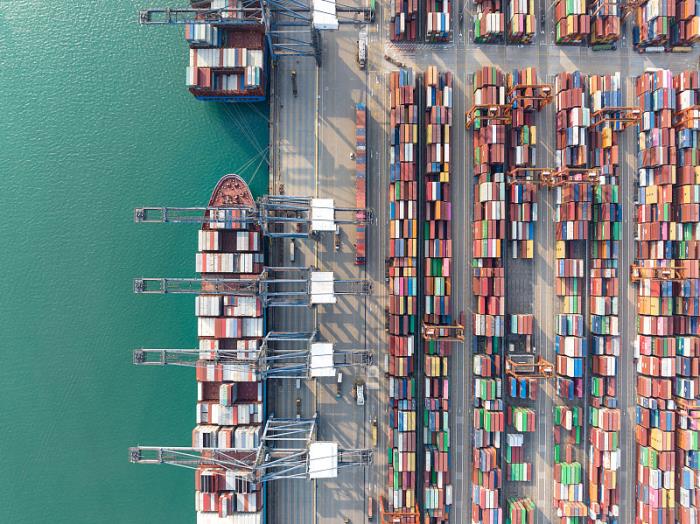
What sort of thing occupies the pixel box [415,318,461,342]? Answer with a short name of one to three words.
container crane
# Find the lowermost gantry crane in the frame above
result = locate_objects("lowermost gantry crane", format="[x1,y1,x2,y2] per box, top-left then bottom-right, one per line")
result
[379,491,422,524]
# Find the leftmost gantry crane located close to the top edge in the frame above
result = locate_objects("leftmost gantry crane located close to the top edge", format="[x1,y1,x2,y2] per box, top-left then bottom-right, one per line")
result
[135,0,375,69]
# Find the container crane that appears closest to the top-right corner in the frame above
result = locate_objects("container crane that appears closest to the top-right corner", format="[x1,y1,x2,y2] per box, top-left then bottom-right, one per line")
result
[588,0,643,30]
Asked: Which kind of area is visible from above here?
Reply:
port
